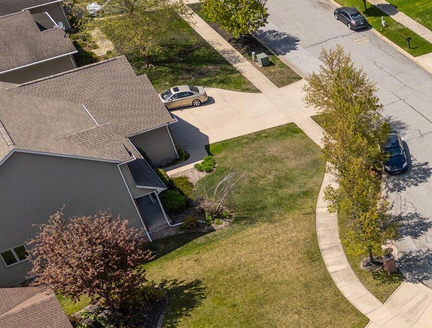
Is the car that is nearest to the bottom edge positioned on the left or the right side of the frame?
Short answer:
right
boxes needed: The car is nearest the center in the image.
[162,86,207,112]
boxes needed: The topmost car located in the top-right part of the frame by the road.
[333,3,368,26]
